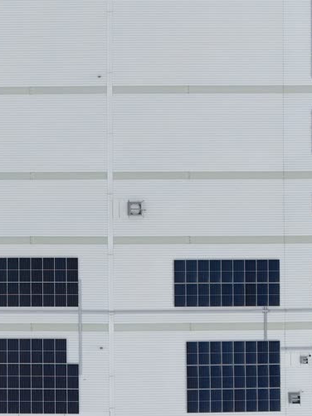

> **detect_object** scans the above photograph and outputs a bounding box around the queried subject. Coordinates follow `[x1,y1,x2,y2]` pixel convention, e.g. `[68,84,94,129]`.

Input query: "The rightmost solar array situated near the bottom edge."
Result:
[186,340,281,414]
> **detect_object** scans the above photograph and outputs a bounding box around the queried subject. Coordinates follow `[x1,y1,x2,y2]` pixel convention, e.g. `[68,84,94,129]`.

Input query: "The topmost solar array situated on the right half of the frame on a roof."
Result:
[174,258,281,307]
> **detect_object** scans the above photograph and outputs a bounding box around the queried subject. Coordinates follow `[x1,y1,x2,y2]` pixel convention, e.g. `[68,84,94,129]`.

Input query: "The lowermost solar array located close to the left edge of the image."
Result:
[0,339,79,414]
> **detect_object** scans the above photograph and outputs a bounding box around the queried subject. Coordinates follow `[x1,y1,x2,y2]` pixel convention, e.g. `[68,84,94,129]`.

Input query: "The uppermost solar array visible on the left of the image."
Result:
[0,257,78,306]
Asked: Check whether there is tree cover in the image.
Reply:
No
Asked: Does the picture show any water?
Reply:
No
